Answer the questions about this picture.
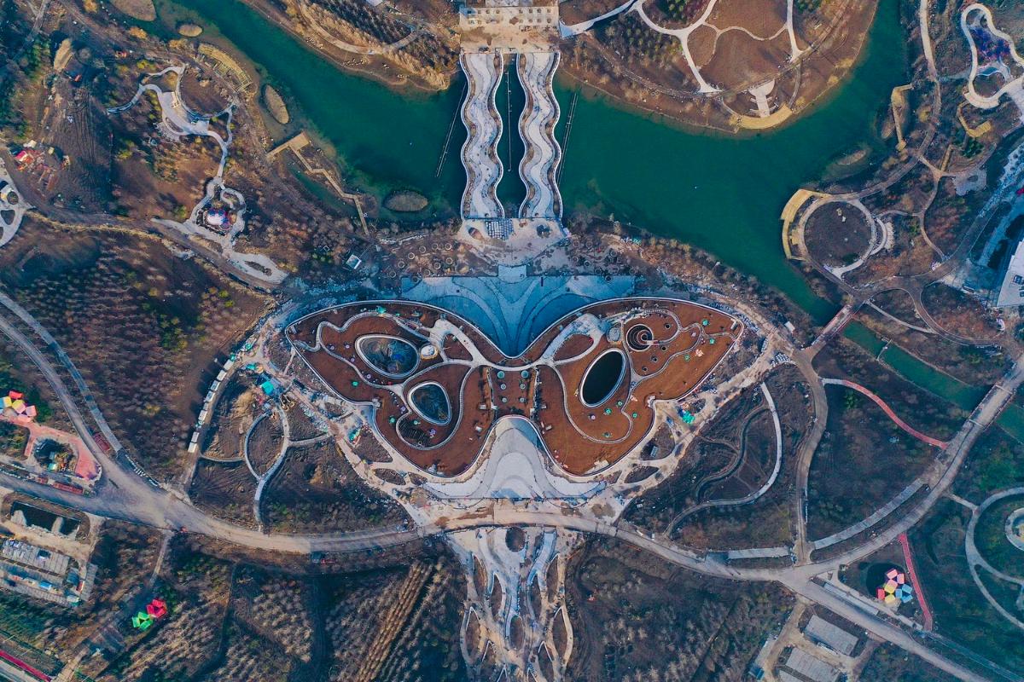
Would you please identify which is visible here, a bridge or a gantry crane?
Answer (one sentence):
It is a bridge that can be seen here.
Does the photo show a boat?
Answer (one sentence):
No, no boat is visible in the view.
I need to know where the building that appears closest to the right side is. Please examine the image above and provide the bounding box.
[988,239,1024,307]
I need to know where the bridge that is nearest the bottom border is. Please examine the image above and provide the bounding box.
[960,376,1008,428]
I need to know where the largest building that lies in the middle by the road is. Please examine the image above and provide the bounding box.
[286,298,743,476]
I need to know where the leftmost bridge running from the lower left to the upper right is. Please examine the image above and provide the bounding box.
[813,297,857,347]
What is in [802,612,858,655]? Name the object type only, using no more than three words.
shed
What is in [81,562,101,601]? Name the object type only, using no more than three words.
shed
